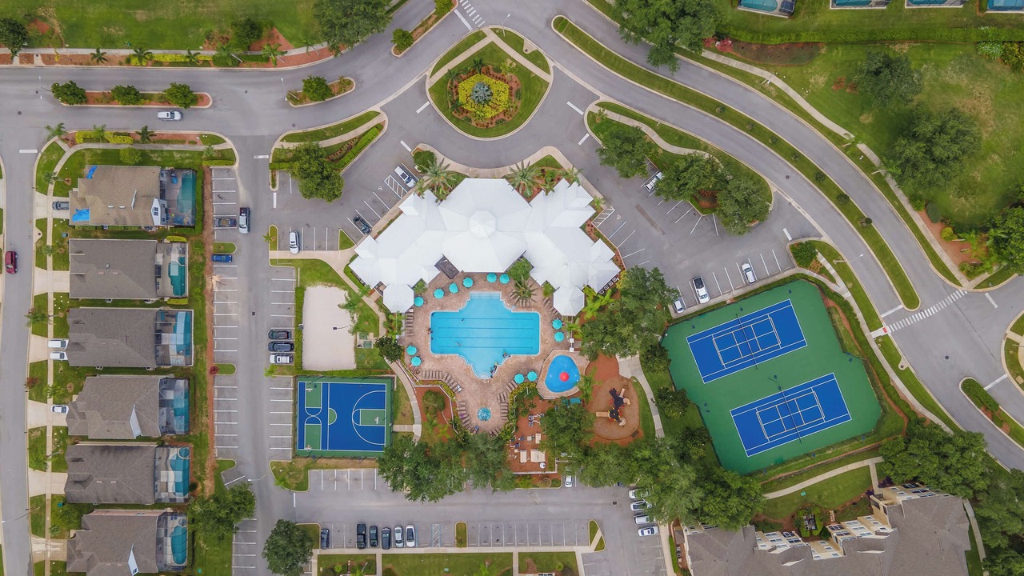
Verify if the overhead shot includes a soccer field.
No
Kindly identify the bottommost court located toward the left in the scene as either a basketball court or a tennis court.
basketball court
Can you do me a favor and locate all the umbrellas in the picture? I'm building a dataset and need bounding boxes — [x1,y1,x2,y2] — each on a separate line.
[487,273,497,283]
[554,332,564,342]
[407,345,417,355]
[527,371,537,381]
[434,288,444,298]
[514,373,524,384]
[411,356,422,366]
[499,273,510,284]
[552,319,562,330]
[414,297,424,307]
[463,277,473,288]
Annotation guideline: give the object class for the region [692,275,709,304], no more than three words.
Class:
vehicle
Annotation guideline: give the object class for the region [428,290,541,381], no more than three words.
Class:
swimming pool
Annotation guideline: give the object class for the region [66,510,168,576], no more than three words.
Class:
house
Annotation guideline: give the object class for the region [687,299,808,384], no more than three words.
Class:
tennis court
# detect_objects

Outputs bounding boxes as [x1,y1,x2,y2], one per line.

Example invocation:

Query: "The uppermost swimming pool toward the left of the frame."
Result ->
[175,170,194,214]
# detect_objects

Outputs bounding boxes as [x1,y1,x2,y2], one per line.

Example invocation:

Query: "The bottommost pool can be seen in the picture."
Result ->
[171,518,187,565]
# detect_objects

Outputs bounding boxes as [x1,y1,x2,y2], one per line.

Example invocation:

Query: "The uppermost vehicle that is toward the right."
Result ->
[643,170,665,192]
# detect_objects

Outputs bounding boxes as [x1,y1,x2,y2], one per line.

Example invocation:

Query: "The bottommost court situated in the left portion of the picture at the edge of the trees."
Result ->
[296,378,391,459]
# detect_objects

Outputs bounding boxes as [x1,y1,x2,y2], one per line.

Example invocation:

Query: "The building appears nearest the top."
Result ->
[69,165,166,226]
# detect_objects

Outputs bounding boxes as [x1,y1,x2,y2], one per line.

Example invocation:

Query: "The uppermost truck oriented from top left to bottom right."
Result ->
[393,164,417,189]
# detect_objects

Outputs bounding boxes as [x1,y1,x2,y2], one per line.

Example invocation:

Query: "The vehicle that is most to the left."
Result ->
[5,250,19,272]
